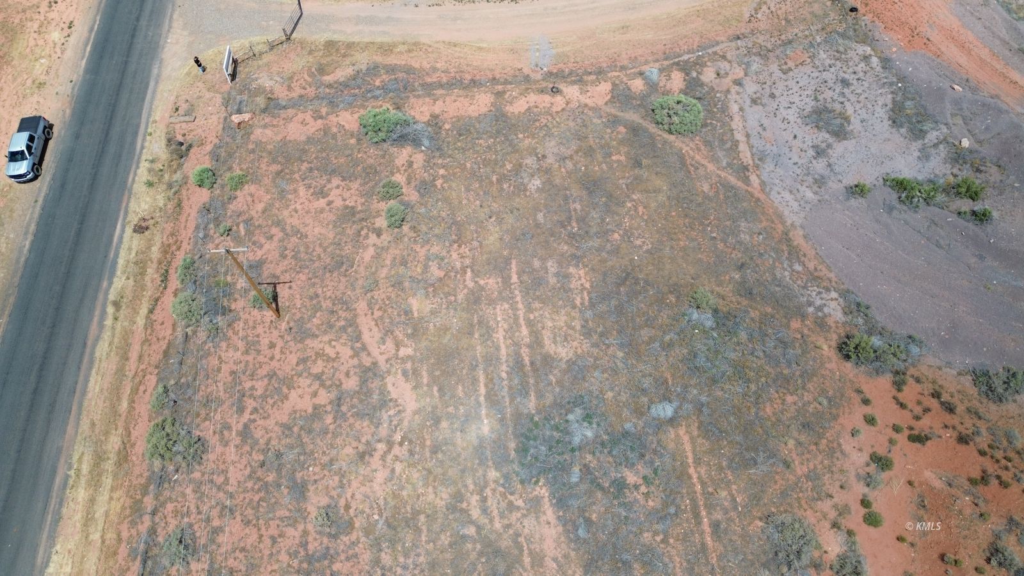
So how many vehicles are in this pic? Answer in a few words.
1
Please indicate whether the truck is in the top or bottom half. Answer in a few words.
top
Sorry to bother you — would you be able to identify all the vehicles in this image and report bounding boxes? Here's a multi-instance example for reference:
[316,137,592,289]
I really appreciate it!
[4,116,53,182]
